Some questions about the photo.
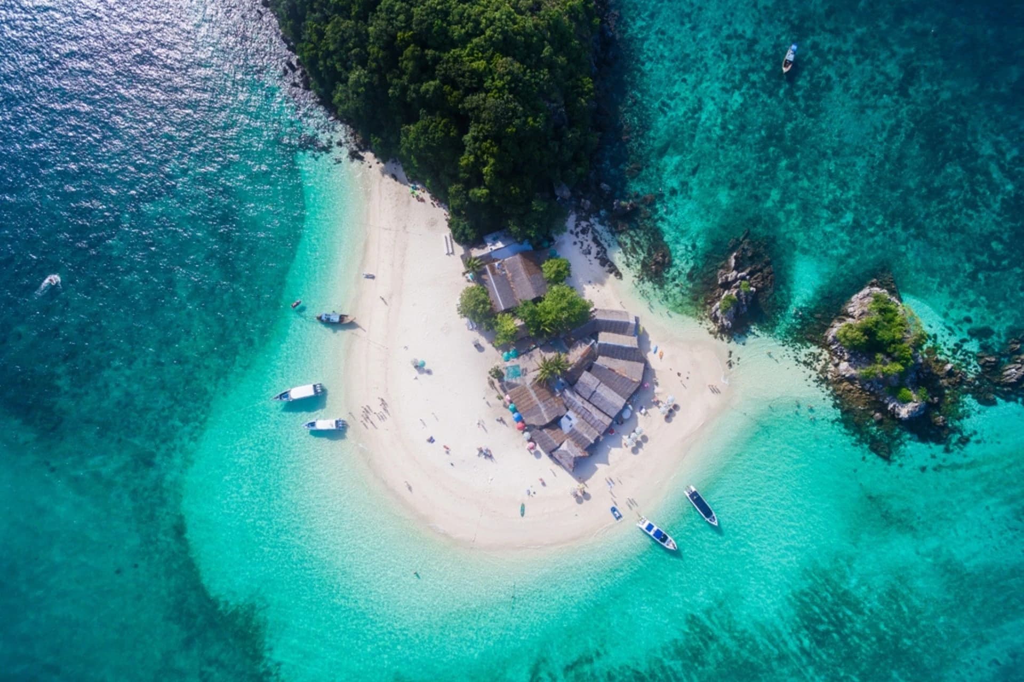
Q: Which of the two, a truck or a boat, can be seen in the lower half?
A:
boat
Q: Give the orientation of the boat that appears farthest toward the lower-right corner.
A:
on a diagonal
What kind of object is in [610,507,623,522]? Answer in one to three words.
boat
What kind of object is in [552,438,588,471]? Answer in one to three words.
shed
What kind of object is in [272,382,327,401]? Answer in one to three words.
boat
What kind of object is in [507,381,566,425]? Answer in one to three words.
building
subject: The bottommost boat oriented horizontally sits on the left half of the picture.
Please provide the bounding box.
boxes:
[301,419,349,432]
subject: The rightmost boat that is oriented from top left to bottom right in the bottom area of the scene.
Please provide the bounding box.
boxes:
[684,485,718,527]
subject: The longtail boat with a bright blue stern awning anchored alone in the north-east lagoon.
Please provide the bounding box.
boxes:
[783,40,800,72]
